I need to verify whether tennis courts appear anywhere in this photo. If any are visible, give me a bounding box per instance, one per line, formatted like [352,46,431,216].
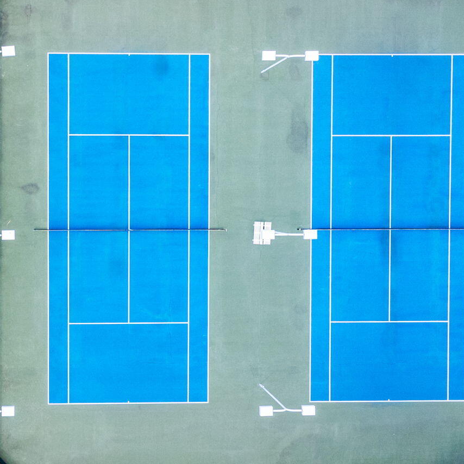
[48,53,210,403]
[310,54,464,402]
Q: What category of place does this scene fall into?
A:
sports ground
